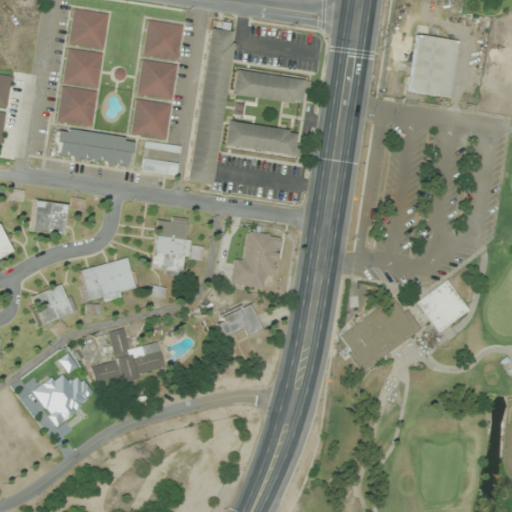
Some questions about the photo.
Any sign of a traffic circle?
No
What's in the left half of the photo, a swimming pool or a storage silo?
swimming pool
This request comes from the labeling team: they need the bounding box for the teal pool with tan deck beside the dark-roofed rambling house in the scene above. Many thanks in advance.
[162,333,196,364]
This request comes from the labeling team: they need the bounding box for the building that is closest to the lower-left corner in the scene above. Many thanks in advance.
[32,374,92,426]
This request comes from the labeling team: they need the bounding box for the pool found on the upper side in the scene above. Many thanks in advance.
[101,92,126,122]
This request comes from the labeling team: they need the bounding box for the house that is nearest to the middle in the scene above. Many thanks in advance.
[230,233,282,288]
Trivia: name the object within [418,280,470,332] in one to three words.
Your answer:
barn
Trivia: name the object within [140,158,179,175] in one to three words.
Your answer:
shed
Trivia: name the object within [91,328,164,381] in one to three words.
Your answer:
house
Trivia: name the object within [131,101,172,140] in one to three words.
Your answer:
building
